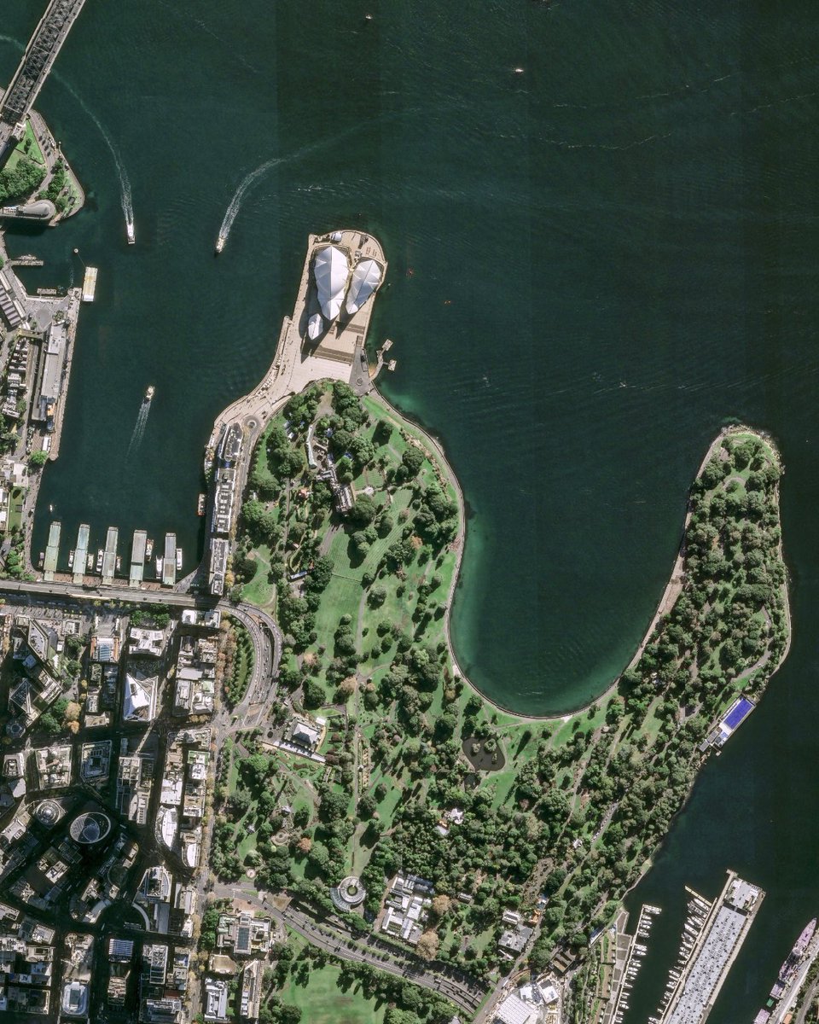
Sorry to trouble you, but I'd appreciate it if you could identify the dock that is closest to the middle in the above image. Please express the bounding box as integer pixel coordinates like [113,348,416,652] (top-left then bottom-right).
[371,339,396,381]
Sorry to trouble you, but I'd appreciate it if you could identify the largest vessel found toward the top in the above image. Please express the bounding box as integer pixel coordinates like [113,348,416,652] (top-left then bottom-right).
[82,267,98,302]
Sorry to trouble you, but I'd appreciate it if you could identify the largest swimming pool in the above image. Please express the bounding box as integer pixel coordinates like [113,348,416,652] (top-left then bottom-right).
[701,694,756,756]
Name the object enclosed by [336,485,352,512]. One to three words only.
house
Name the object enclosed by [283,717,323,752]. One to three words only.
building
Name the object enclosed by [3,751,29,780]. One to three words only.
building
